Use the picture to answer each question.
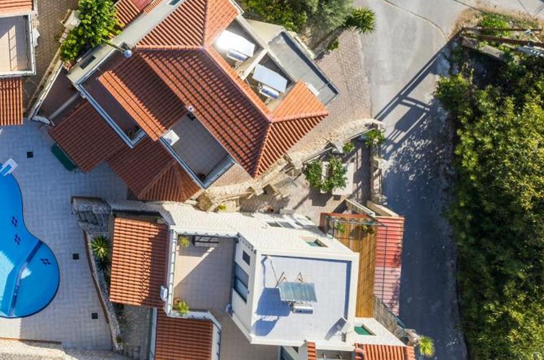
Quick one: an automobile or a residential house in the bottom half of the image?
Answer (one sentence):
You can see a residential house in the bottom half of the image.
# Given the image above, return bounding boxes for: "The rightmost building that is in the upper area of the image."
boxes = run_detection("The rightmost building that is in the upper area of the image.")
[43,0,338,204]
